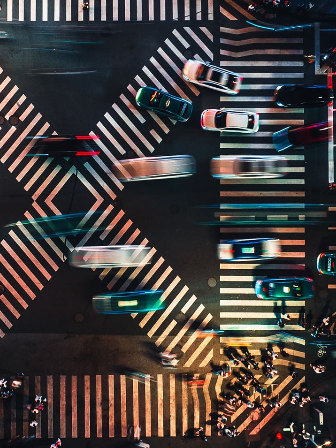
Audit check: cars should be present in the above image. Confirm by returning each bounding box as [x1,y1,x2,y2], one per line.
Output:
[219,235,277,263]
[200,106,259,134]
[317,253,336,275]
[135,87,193,121]
[273,81,335,110]
[272,119,336,152]
[255,275,312,303]
[218,153,279,181]
[39,131,93,159]
[102,288,159,315]
[182,59,243,93]
[126,154,186,183]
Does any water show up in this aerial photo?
No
